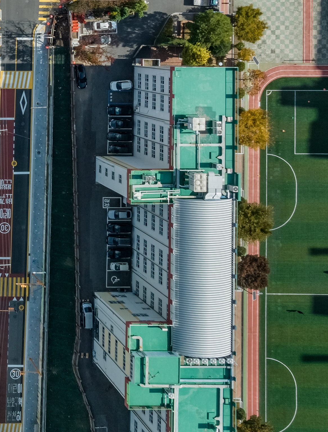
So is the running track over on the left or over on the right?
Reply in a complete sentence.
It is on the right.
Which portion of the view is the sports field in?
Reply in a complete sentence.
The sports field is located in the right region of the scene.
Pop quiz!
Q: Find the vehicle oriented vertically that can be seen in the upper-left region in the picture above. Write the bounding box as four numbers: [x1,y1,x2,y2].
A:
[75,63,87,89]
